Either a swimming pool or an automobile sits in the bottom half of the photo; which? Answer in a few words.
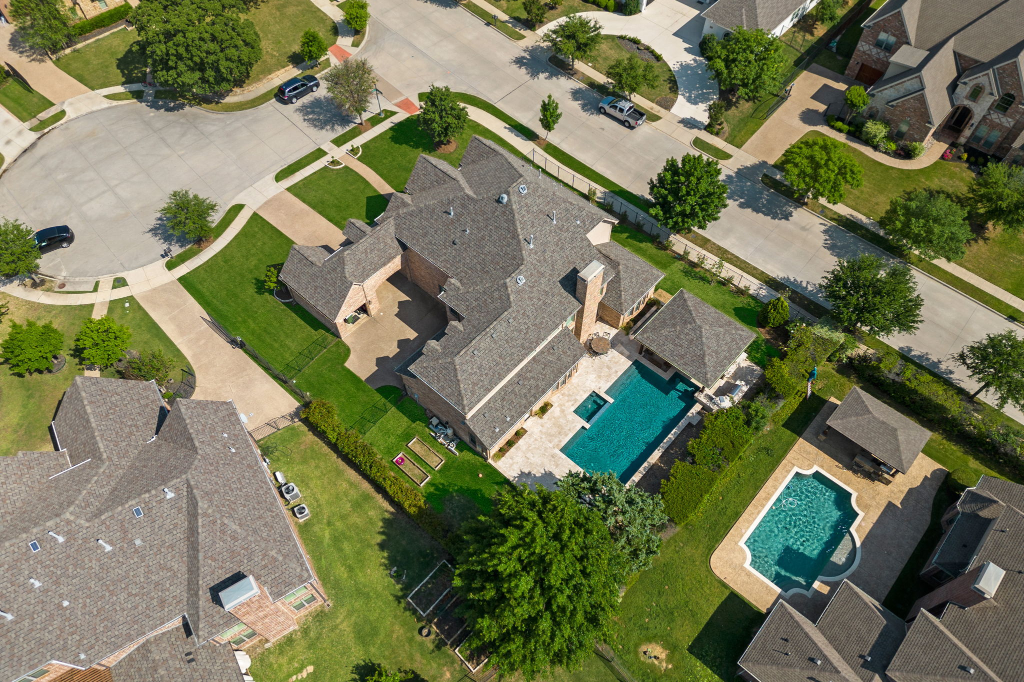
swimming pool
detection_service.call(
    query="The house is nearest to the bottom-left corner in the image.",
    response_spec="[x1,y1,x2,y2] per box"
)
[0,375,329,682]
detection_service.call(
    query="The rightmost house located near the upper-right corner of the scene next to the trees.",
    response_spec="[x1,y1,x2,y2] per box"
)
[841,0,1024,177]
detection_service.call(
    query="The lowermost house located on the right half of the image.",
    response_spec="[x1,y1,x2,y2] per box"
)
[735,474,1024,682]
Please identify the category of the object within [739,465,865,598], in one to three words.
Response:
swimming pool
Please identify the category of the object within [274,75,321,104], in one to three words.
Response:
car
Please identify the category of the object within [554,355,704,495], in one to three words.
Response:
swimming pool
